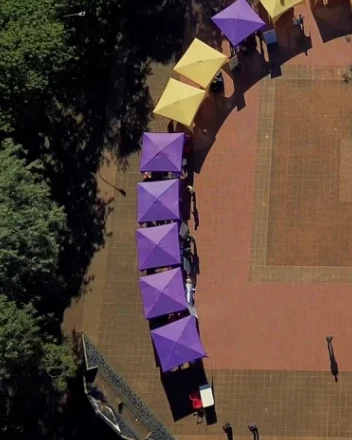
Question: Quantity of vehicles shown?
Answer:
0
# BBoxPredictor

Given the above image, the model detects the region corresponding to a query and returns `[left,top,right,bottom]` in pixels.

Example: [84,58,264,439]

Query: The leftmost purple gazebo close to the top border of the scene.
[211,0,267,55]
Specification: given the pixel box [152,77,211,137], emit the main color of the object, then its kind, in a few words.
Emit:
yellow gazebo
